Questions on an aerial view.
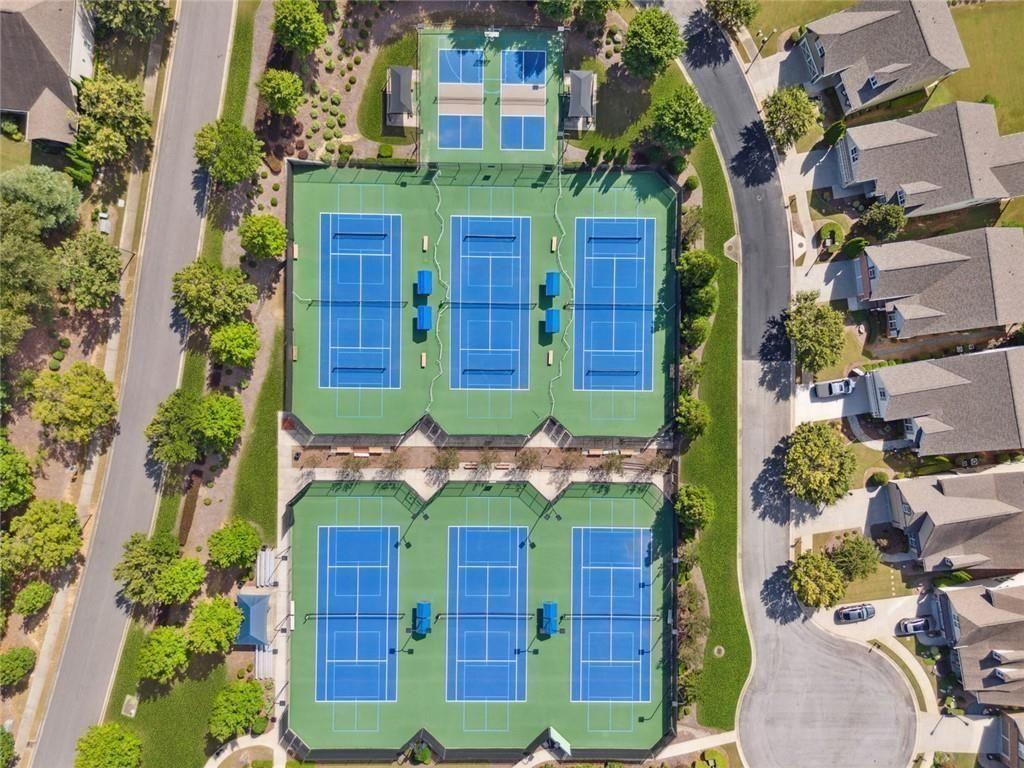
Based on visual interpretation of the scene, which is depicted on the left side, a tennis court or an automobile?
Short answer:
tennis court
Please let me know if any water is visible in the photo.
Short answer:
No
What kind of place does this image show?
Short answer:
residential area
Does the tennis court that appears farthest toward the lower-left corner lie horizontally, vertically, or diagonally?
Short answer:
vertically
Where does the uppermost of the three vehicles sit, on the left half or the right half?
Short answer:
right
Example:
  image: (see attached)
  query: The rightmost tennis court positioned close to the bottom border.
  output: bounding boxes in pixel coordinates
[571,499,652,731]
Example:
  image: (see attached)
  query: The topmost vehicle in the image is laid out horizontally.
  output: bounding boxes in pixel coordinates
[817,379,859,399]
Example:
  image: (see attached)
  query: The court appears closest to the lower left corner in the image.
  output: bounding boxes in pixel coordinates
[316,498,400,731]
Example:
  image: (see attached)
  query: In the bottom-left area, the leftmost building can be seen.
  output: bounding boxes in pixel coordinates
[233,588,277,644]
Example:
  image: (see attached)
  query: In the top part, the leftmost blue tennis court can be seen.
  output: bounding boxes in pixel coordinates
[319,185,401,417]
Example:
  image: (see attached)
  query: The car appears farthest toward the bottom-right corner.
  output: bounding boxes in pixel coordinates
[899,617,932,636]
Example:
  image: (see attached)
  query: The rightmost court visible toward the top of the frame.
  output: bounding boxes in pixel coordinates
[573,189,656,419]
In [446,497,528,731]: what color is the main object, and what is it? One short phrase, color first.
blue tennis court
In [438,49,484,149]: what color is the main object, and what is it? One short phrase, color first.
blue sports court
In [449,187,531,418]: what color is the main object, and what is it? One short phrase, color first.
blue tennis court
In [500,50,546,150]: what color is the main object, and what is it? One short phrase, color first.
blue sports court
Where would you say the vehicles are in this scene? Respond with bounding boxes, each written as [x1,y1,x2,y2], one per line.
[817,379,859,399]
[899,617,932,636]
[840,605,877,624]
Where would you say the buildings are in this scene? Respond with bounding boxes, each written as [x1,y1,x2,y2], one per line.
[926,573,1024,704]
[798,0,967,110]
[850,228,1024,340]
[389,66,415,121]
[886,463,1024,567]
[233,588,277,644]
[0,0,94,148]
[861,347,1024,456]
[835,101,1024,225]
[566,70,592,124]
